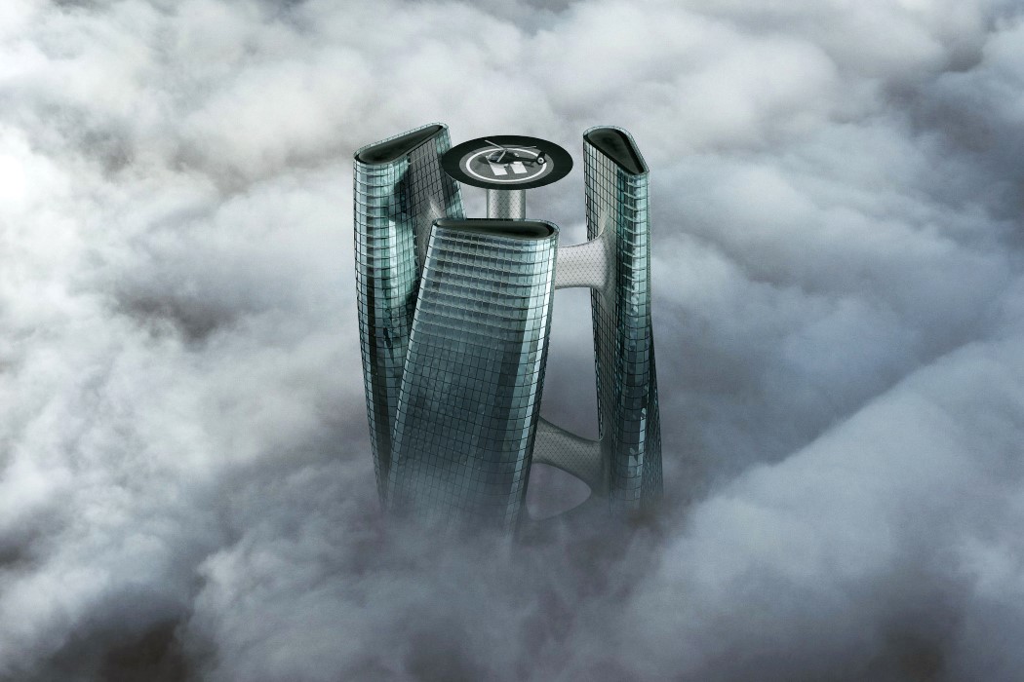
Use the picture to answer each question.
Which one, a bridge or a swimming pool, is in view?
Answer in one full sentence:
Of the two, only a bridge appears.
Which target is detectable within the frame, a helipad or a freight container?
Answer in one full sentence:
Visible in the photo is a helipad.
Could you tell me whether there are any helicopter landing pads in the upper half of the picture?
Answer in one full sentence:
Yes, a helicopter landing pad appears in the upper half of the picture.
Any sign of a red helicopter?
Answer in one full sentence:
No, there's no red helicopter here.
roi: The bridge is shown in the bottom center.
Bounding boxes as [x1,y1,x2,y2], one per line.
[485,411,615,612]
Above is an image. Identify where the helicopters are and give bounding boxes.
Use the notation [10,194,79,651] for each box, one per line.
[484,140,547,170]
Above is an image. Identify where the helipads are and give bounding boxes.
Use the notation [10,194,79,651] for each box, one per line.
[440,135,574,218]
